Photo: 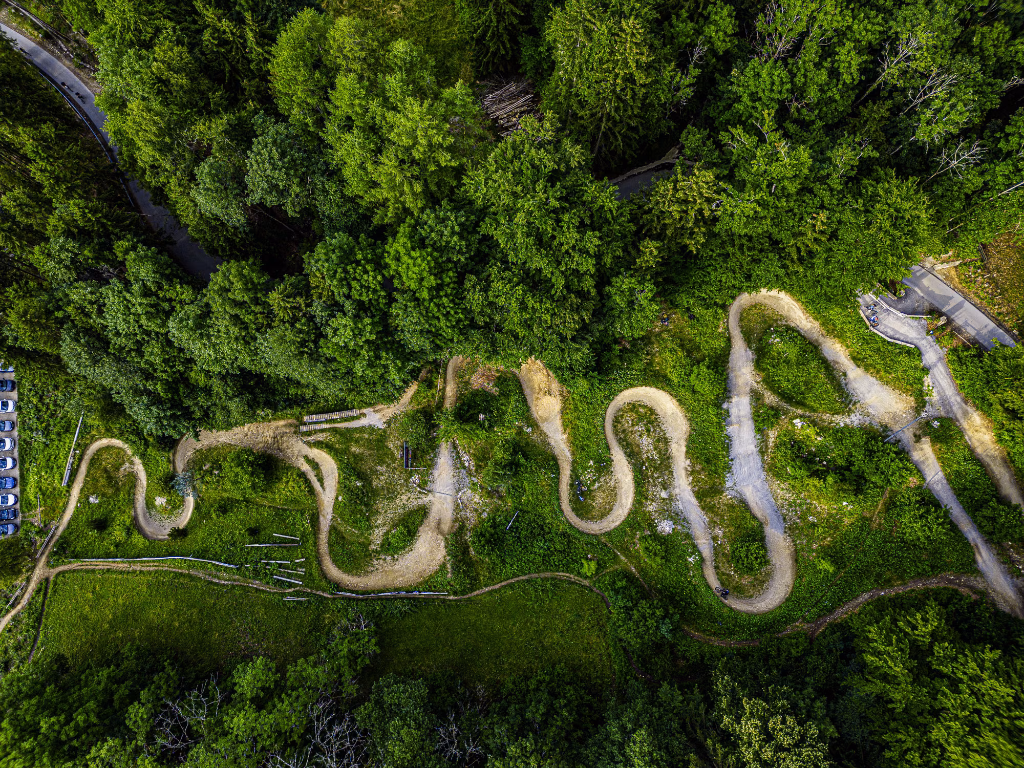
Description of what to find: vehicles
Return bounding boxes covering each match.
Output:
[0,508,17,523]
[0,378,15,393]
[0,399,14,414]
[0,419,13,432]
[0,457,14,472]
[0,524,17,538]
[0,476,15,492]
[0,360,14,375]
[0,493,17,508]
[0,438,13,451]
